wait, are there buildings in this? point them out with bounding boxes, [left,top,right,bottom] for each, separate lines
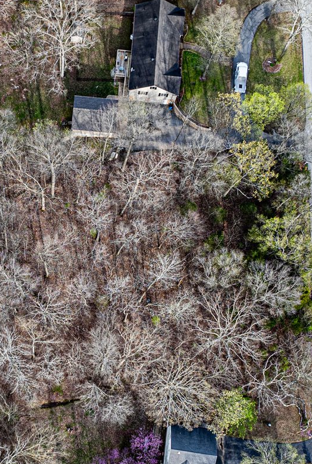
[68,22,87,48]
[73,93,119,136]
[127,0,189,106]
[164,423,218,464]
